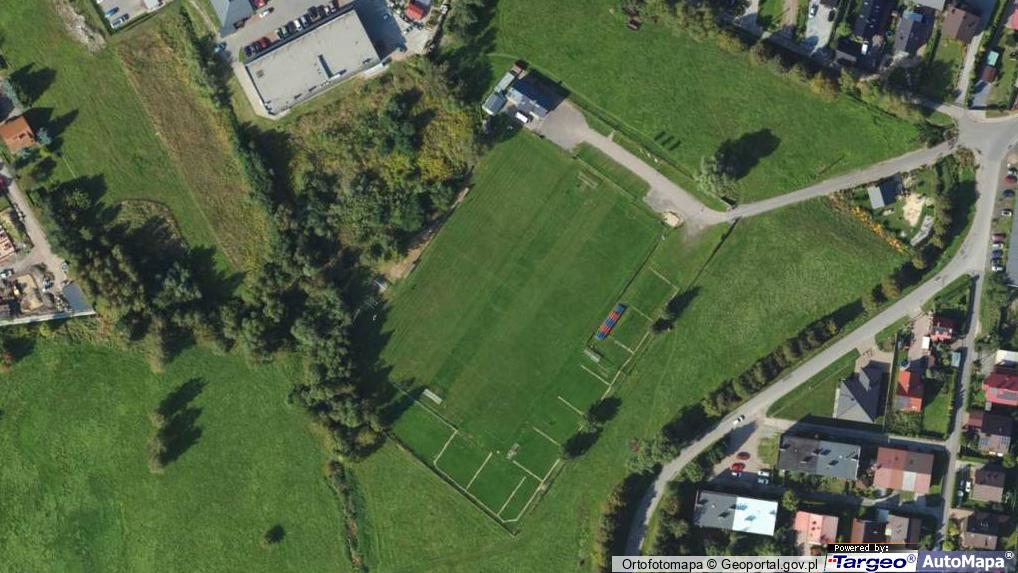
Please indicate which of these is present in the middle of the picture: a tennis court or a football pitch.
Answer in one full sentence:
You can see a football pitch in the middle of the picture.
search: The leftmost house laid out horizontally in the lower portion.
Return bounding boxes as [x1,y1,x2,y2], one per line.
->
[695,489,777,535]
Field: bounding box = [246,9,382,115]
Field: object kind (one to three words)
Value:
building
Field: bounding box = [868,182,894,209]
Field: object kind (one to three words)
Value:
shed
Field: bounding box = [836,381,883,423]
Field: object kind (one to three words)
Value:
house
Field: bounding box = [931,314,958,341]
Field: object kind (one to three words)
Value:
house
